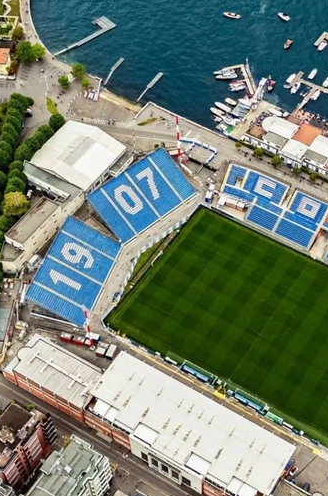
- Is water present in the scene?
Yes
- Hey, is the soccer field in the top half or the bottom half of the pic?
bottom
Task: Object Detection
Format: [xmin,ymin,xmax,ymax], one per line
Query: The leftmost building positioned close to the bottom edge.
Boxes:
[0,404,46,495]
